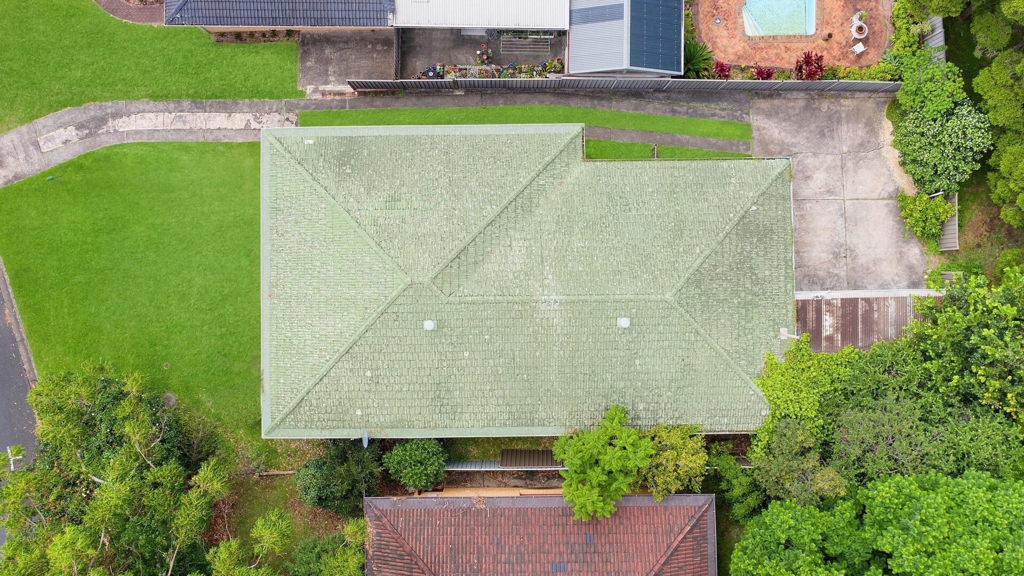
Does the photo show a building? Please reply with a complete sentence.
Yes, there is a building in the image.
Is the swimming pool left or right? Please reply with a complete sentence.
It is on the right.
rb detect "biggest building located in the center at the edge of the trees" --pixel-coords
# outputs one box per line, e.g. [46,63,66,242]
[259,122,799,442]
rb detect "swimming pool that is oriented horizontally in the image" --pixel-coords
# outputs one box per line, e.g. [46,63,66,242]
[733,0,827,45]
